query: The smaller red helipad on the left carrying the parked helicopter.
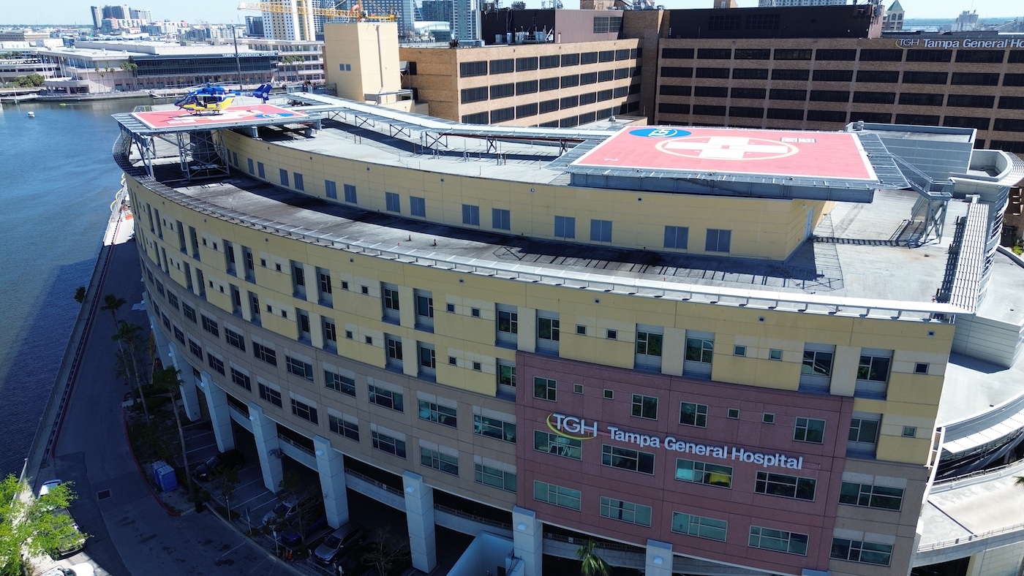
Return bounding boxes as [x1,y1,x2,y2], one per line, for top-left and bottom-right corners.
[113,103,328,184]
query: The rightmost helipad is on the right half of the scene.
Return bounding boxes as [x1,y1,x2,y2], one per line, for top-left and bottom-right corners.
[545,124,912,205]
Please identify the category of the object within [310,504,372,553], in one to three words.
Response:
car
